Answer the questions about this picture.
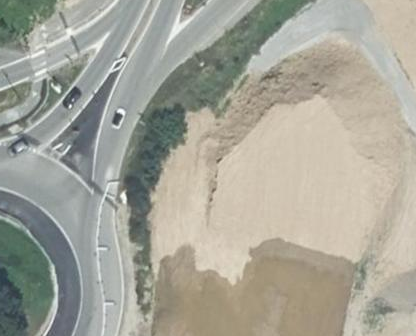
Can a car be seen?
Yes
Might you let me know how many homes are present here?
none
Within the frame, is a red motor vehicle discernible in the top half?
No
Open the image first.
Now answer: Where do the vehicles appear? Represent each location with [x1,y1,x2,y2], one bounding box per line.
[8,138,30,155]
[113,107,126,129]
[63,86,82,108]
